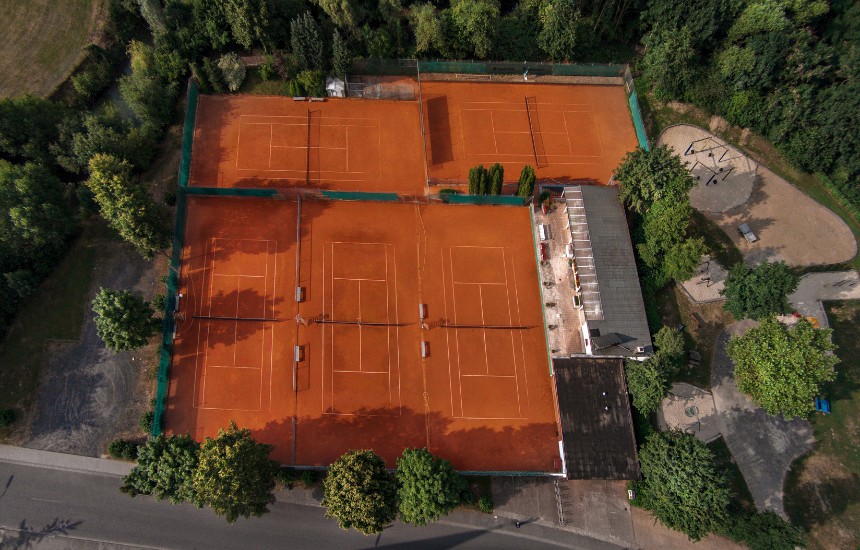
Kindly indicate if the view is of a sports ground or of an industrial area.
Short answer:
sports ground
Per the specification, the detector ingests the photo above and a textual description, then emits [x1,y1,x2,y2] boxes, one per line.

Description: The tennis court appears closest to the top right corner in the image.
[421,82,642,207]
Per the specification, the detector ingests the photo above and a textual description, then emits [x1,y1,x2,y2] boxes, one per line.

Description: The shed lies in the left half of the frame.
[323,73,344,98]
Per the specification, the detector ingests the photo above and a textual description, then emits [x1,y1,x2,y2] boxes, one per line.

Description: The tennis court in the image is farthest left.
[164,197,298,467]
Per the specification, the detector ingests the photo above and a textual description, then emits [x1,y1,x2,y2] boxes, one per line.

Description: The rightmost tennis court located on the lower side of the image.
[418,203,562,474]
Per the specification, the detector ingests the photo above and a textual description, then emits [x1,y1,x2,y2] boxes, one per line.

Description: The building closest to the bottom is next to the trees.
[550,354,642,480]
